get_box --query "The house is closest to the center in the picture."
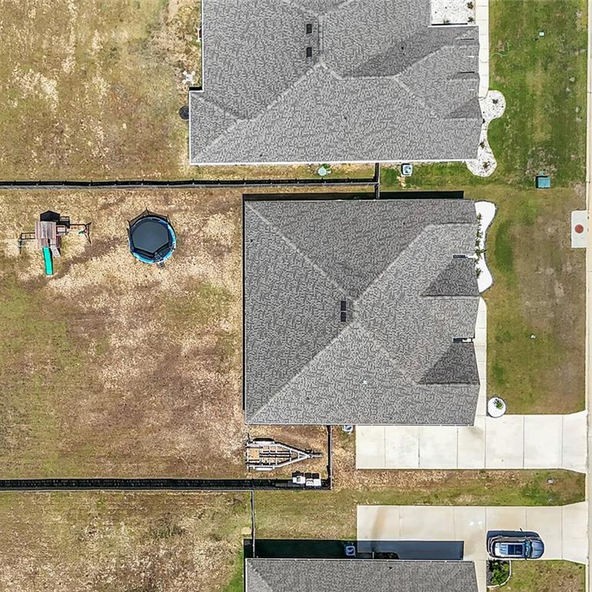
[243,199,479,427]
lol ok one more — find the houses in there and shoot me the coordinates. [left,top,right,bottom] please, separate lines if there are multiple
[244,555,477,592]
[243,199,479,427]
[188,0,482,164]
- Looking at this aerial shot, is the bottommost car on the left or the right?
right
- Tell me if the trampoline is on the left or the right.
left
